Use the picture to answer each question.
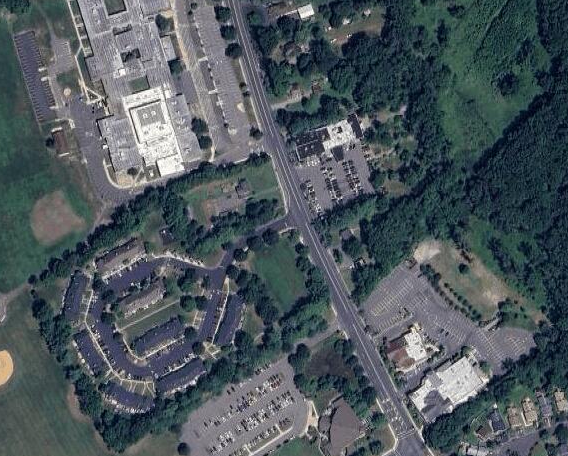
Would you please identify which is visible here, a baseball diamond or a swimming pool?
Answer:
baseball diamond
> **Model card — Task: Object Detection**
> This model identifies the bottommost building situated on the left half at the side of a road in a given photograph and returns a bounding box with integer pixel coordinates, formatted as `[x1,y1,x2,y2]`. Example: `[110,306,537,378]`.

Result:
[102,380,156,412]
